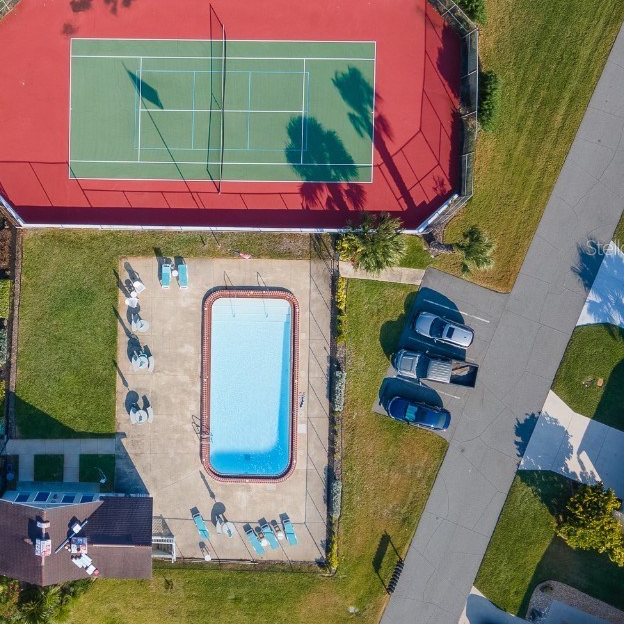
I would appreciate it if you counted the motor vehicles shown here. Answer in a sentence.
The picture shows 3 motor vehicles.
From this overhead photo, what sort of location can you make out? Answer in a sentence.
The area seen from above is a sports ground.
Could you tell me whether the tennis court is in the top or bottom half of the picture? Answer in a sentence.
The tennis court is in the top half of the image.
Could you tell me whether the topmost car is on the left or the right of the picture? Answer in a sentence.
The topmost car sits on the right side.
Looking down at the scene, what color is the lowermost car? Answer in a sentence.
The lowermost car looks blue in the image.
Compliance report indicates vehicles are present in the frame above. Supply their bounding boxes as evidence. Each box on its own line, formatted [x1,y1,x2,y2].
[386,393,451,432]
[414,310,476,352]
[391,345,481,391]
